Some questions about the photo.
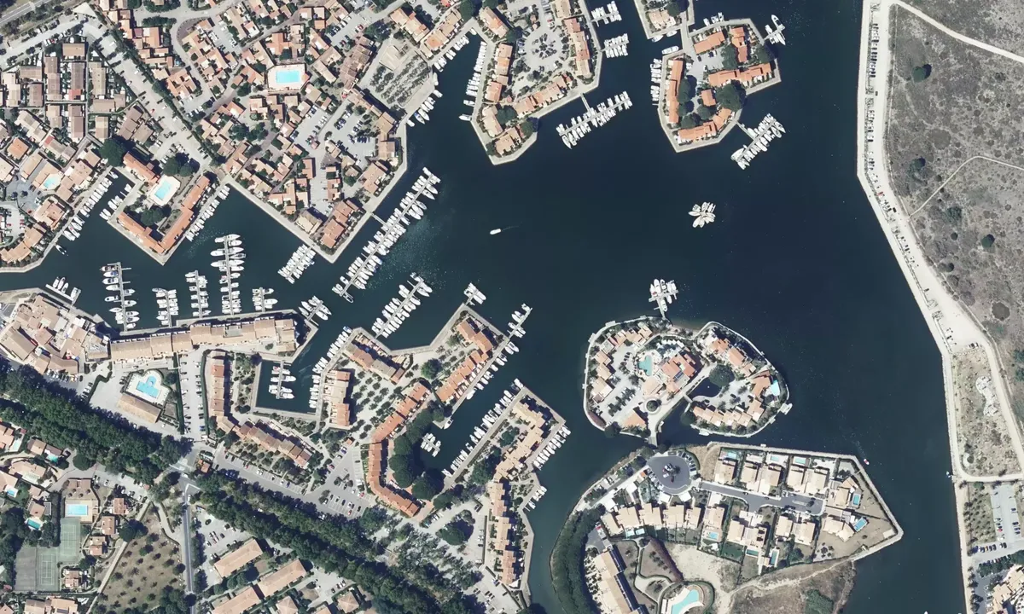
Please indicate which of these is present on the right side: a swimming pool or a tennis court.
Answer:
swimming pool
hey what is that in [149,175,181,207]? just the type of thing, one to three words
swimming pool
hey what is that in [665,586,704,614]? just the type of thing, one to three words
swimming pool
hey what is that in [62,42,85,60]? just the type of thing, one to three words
house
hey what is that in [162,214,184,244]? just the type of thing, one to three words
building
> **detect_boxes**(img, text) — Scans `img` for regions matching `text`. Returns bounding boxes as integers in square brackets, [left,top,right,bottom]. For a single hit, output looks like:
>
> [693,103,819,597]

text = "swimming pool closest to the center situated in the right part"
[634,350,661,379]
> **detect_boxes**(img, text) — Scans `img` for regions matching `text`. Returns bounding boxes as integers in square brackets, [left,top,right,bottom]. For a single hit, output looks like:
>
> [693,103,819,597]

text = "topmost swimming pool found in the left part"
[268,64,307,90]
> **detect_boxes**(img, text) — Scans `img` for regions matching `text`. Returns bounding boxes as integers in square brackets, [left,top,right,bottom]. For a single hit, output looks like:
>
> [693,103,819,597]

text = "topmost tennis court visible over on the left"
[59,517,81,563]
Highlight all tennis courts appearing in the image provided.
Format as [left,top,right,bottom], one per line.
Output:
[59,517,81,563]
[36,547,59,591]
[14,547,36,591]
